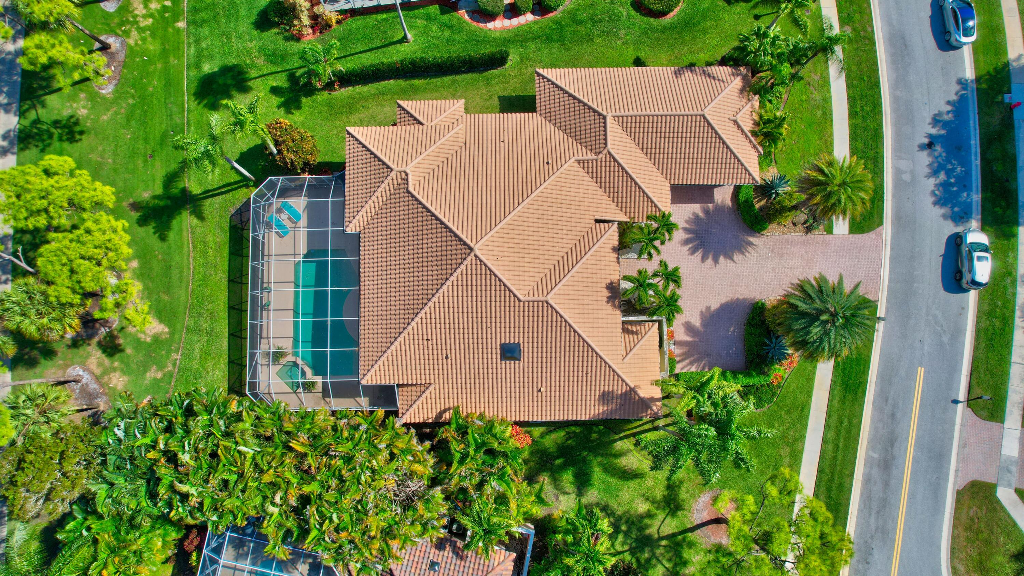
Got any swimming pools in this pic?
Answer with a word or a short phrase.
Yes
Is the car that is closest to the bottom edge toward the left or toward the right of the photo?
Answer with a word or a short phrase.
right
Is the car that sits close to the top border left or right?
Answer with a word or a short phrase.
right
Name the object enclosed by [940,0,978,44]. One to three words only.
car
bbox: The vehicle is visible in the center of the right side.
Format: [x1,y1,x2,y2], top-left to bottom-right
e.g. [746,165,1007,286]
[956,229,992,290]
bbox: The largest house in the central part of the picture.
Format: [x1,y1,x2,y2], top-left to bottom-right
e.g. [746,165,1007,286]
[343,66,764,424]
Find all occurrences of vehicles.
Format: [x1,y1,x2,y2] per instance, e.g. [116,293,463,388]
[956,229,992,290]
[940,0,978,44]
